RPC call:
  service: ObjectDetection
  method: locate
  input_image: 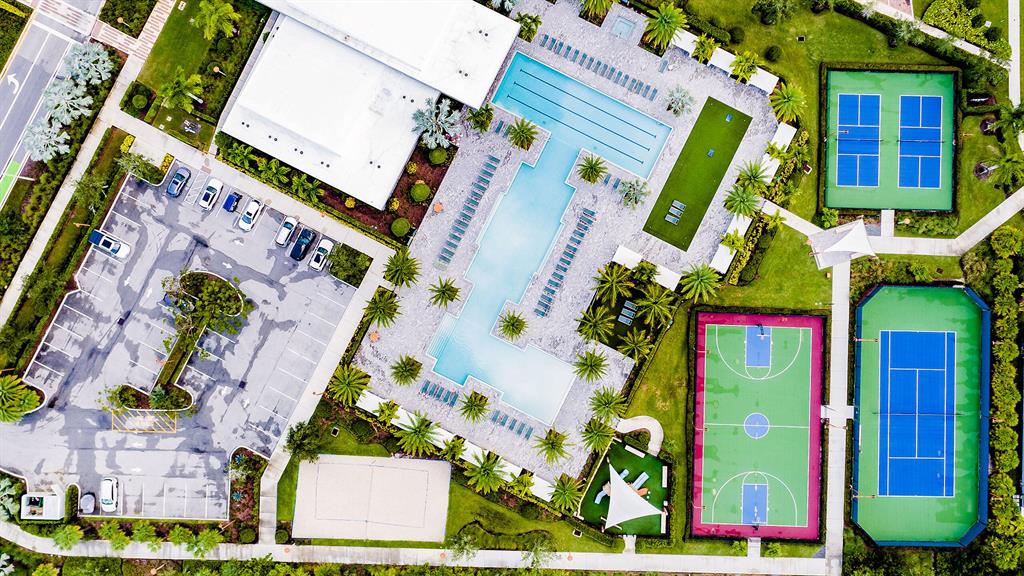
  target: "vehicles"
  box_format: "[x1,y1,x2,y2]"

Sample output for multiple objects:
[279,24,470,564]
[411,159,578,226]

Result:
[199,177,224,211]
[101,477,118,512]
[88,230,132,258]
[309,239,334,272]
[80,493,98,513]
[239,198,263,232]
[290,228,316,262]
[167,166,191,200]
[274,215,299,248]
[223,194,242,212]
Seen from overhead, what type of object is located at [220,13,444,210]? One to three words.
building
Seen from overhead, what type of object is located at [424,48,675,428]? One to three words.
swimming pool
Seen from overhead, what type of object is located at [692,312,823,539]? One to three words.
basketball court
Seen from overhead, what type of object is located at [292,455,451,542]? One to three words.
sports court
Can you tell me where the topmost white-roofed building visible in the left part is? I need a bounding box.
[258,0,521,108]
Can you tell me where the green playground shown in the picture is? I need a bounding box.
[580,440,668,537]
